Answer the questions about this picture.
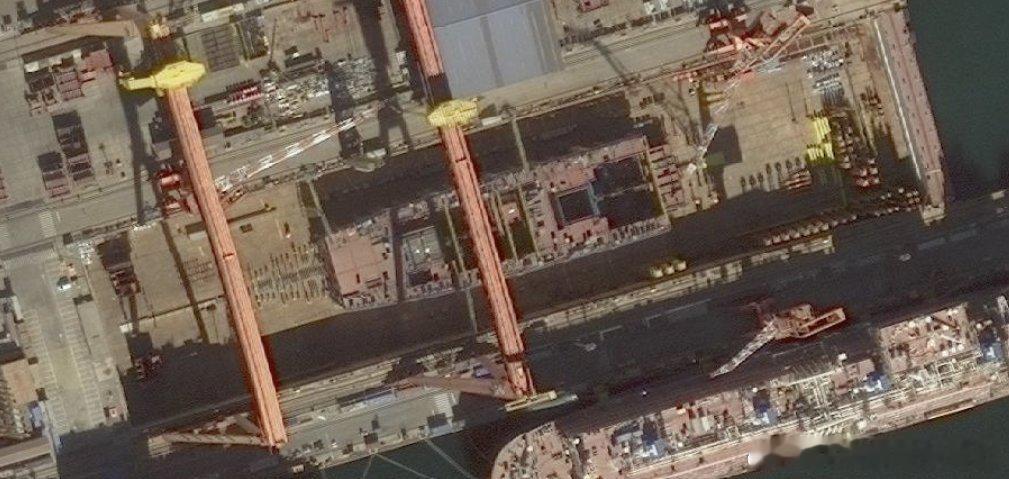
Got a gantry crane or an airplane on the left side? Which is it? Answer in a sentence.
The feature located on the left side is a gantry crane.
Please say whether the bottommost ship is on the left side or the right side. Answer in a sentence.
The bottommost ship appears in the right half of the scene.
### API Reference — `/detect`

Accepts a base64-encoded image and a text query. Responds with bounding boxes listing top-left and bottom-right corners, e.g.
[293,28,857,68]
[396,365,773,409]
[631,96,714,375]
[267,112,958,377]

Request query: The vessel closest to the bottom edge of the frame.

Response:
[491,286,1009,479]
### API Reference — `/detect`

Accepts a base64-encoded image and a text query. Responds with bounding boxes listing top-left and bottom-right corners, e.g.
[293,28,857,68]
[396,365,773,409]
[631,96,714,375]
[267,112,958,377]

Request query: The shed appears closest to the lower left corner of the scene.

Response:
[0,363,40,404]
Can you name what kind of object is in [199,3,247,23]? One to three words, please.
shed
